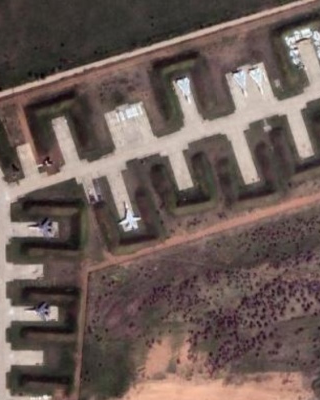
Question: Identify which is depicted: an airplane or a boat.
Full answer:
There is an airplane in the scene.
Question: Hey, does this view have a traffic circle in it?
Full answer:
No, this view has no traffic circle in it.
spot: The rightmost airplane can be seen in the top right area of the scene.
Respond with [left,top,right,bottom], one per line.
[248,67,262,95]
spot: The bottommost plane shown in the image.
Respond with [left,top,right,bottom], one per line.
[24,303,50,321]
